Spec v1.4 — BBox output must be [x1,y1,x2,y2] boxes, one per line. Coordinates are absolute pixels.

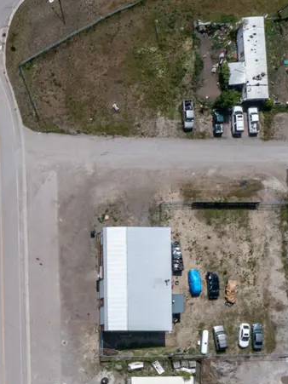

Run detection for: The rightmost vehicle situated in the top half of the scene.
[246,108,260,137]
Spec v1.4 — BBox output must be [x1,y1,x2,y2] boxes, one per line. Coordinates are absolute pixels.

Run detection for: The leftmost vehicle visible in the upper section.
[181,100,196,131]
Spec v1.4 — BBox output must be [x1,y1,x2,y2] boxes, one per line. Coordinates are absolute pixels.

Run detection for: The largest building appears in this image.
[96,222,172,331]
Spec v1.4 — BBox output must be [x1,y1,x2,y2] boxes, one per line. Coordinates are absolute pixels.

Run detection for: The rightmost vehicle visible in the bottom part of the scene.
[250,324,264,349]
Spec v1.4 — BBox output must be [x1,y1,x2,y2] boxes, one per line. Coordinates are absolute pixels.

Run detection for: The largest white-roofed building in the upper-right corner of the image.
[234,16,269,106]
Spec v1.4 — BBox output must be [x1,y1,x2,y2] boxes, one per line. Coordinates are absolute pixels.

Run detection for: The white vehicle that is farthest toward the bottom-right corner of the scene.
[236,323,251,348]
